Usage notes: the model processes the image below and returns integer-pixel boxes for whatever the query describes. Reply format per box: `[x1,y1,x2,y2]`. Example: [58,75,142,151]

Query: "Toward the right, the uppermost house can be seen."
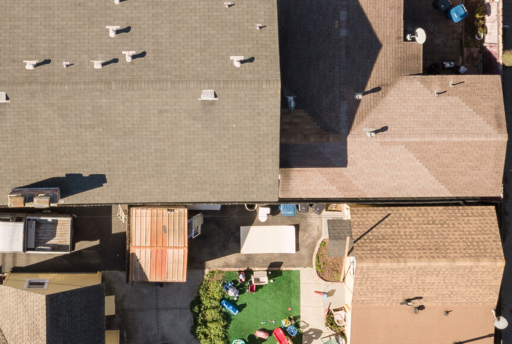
[277,0,508,198]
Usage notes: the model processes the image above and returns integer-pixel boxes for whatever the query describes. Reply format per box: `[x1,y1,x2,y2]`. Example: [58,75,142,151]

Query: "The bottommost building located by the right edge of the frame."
[345,202,505,344]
